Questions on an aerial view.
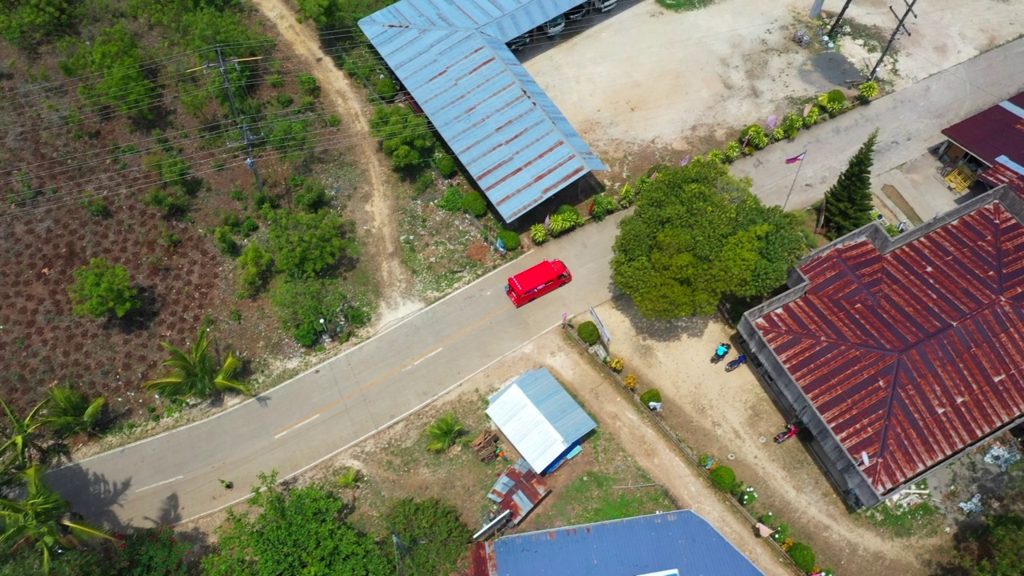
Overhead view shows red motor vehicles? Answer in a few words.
Yes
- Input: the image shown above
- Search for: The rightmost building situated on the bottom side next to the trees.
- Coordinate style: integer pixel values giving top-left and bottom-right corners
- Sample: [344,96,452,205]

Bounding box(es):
[734,184,1024,517]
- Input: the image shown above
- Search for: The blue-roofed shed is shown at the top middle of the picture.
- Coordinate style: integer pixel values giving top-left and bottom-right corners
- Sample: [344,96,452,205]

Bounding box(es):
[358,0,618,227]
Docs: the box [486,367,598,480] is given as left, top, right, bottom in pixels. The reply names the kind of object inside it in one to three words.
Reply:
shed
